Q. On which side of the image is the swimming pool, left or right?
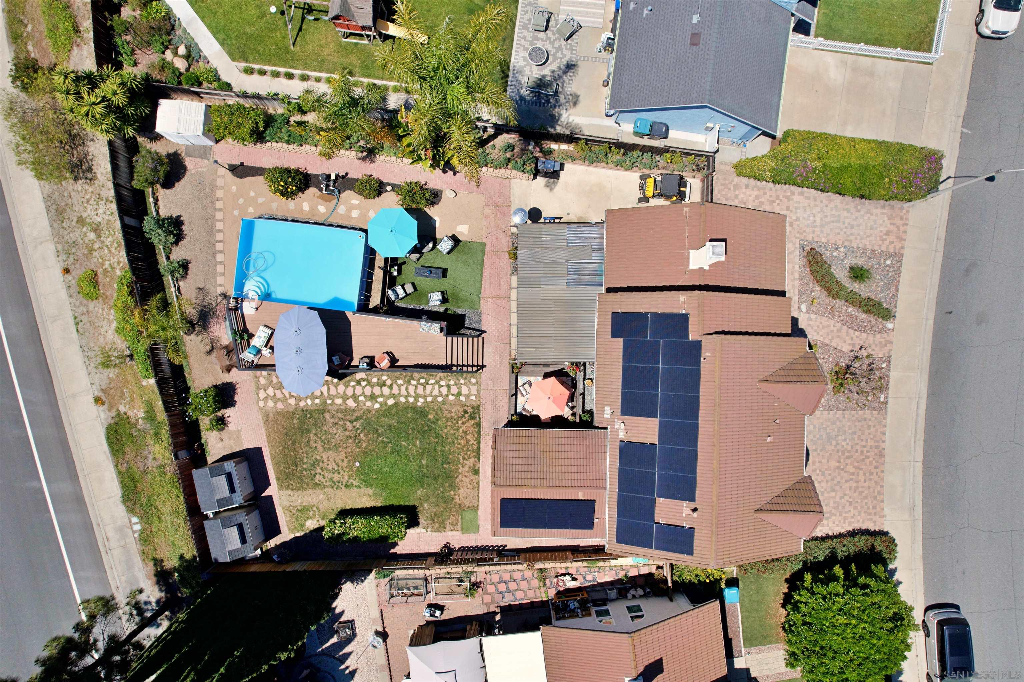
left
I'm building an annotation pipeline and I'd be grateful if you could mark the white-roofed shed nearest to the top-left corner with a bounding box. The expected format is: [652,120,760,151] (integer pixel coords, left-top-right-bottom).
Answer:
[156,100,217,144]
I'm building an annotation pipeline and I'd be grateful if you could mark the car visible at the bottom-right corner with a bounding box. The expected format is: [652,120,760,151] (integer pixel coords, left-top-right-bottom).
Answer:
[926,610,982,682]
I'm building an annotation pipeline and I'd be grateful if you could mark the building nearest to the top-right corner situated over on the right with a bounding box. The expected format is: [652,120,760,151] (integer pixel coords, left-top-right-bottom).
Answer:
[607,0,821,141]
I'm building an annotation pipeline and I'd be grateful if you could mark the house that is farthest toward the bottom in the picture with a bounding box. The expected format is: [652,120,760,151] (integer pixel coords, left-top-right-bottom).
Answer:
[540,586,727,682]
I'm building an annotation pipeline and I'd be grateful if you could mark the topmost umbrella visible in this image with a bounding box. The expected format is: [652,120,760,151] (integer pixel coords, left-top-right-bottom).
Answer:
[368,208,418,258]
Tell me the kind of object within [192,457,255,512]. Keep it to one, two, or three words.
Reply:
shed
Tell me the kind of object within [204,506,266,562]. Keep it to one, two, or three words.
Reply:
shed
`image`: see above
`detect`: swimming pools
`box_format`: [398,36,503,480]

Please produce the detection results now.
[234,215,375,312]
